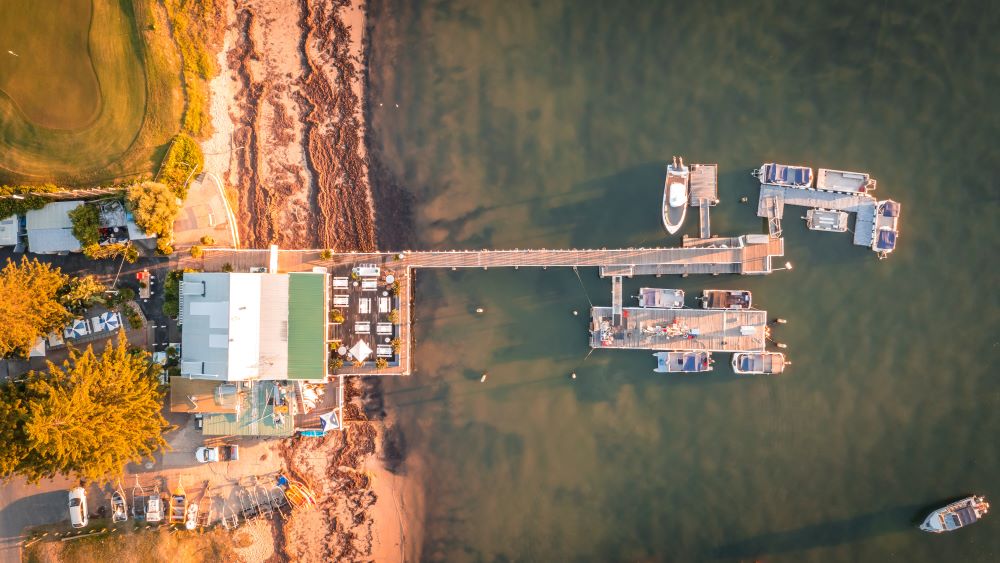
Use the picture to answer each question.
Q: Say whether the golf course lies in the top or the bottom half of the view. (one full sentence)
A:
The top half of the photo is where the golf course is.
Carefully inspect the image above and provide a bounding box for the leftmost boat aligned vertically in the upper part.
[664,156,688,234]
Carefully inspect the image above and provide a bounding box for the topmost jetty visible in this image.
[689,164,718,207]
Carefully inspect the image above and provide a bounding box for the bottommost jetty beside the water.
[590,307,768,352]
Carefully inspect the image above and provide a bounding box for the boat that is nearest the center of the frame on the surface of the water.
[631,288,685,308]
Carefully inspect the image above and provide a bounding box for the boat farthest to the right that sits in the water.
[918,490,990,530]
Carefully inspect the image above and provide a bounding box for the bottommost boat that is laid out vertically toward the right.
[870,202,900,261]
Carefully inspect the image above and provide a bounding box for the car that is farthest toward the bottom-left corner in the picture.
[67,486,93,528]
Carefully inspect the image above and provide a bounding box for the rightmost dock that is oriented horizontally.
[757,183,879,248]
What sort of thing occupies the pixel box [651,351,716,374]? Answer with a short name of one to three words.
boat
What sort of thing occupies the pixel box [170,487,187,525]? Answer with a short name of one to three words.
boat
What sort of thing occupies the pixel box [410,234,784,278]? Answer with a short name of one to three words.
pier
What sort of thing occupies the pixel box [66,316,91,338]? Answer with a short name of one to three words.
umbrella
